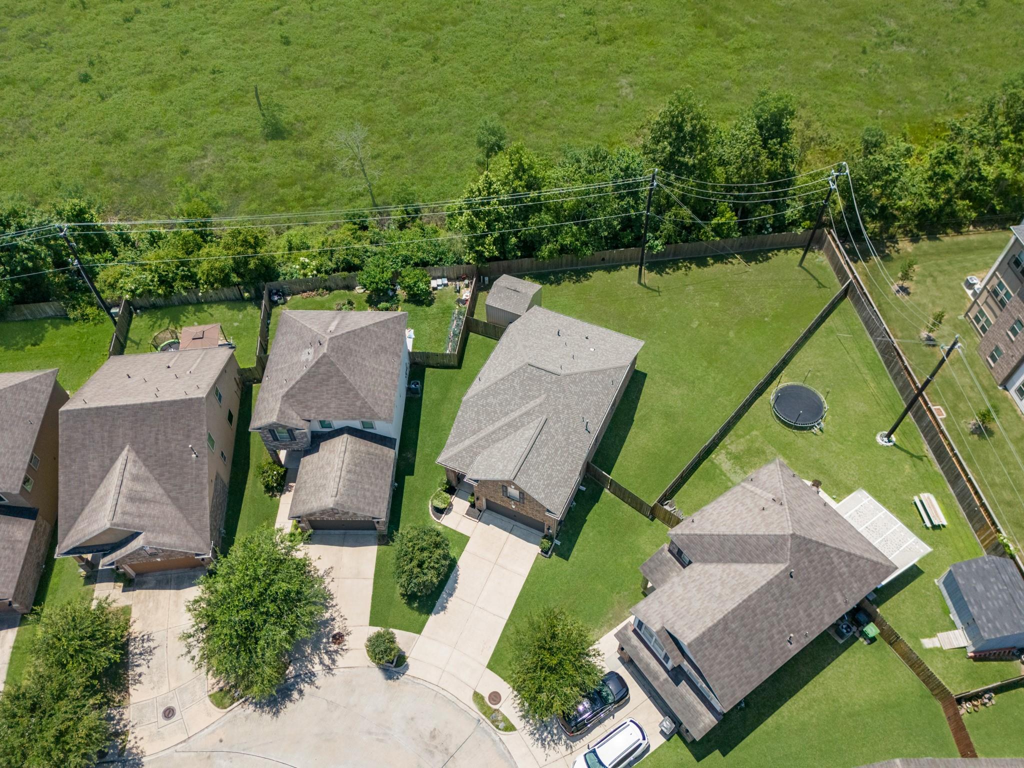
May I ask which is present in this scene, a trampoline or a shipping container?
trampoline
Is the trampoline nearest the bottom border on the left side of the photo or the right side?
right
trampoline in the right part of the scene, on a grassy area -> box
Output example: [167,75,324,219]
[763,368,837,437]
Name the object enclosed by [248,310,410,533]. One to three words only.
house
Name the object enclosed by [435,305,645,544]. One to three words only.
house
